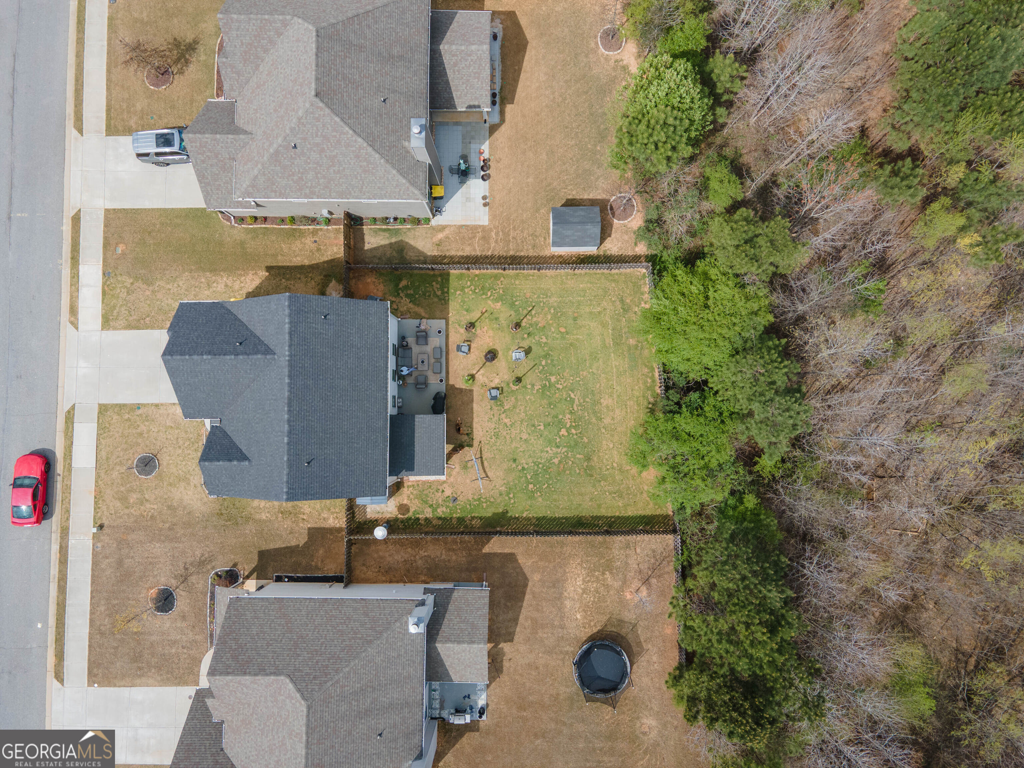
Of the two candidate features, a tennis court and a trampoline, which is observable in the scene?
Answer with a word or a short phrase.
trampoline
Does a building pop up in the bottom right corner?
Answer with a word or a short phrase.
No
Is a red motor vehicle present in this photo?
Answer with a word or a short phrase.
Yes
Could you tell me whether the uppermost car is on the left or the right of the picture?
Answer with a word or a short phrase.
left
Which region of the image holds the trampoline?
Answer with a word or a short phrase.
bottom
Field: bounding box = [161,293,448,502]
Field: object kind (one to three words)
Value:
house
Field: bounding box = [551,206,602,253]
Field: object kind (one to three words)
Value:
shed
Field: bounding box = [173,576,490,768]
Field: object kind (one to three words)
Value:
house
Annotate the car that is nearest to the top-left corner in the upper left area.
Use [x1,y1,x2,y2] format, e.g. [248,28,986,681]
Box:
[130,124,193,166]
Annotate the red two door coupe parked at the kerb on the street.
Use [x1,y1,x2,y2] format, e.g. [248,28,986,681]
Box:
[9,454,51,527]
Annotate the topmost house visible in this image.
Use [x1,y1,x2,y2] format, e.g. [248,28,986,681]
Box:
[185,0,491,224]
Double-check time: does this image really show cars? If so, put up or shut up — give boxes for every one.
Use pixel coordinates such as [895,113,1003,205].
[9,454,51,527]
[130,124,193,166]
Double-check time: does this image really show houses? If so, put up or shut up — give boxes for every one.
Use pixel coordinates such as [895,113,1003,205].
[185,0,491,224]
[173,576,490,768]
[161,293,448,502]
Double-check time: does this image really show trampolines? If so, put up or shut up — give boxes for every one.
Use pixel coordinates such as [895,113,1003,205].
[573,634,634,712]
